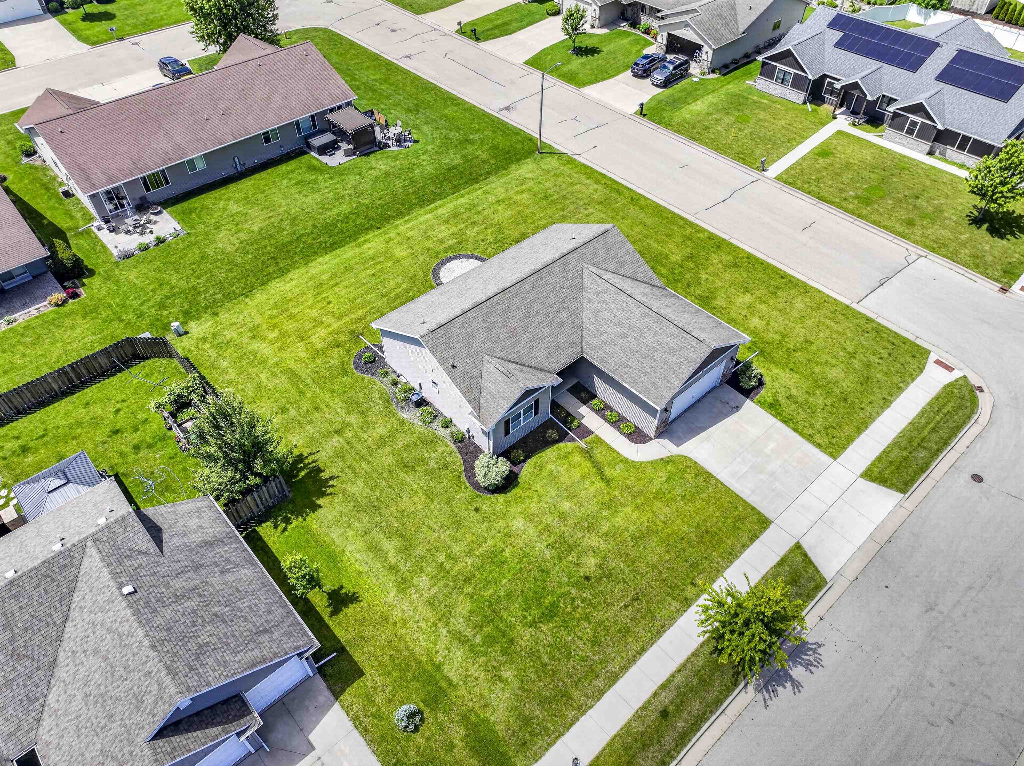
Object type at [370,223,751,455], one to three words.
house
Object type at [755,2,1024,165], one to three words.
house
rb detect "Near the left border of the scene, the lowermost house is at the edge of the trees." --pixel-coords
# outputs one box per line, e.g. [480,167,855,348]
[0,475,328,766]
